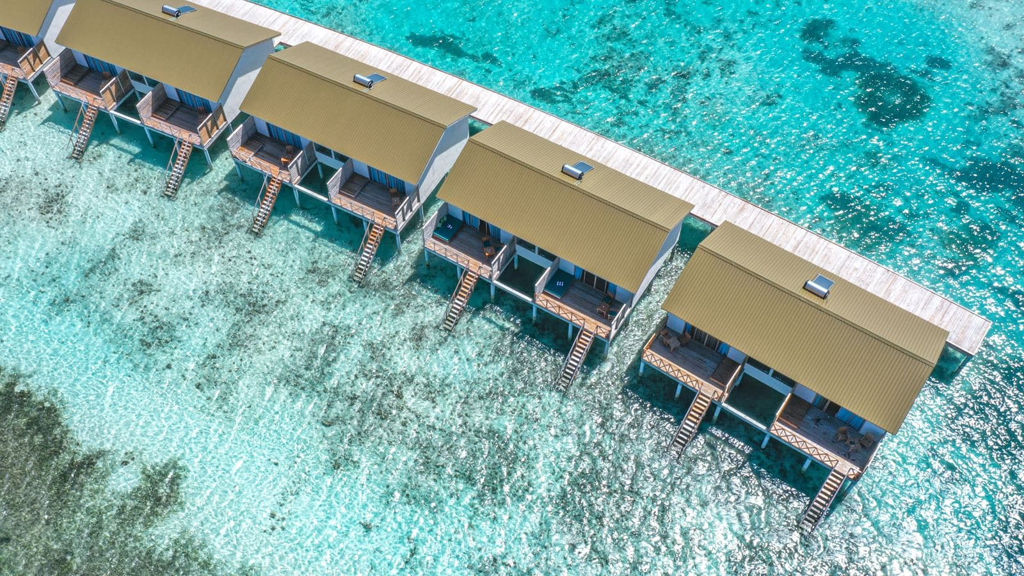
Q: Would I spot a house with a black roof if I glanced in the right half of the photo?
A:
No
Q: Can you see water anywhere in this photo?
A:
Yes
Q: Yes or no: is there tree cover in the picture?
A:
No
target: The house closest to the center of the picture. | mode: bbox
[422,120,694,392]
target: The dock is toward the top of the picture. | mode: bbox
[188,0,994,370]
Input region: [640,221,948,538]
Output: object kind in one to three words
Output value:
house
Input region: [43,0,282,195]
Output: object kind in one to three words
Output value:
house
